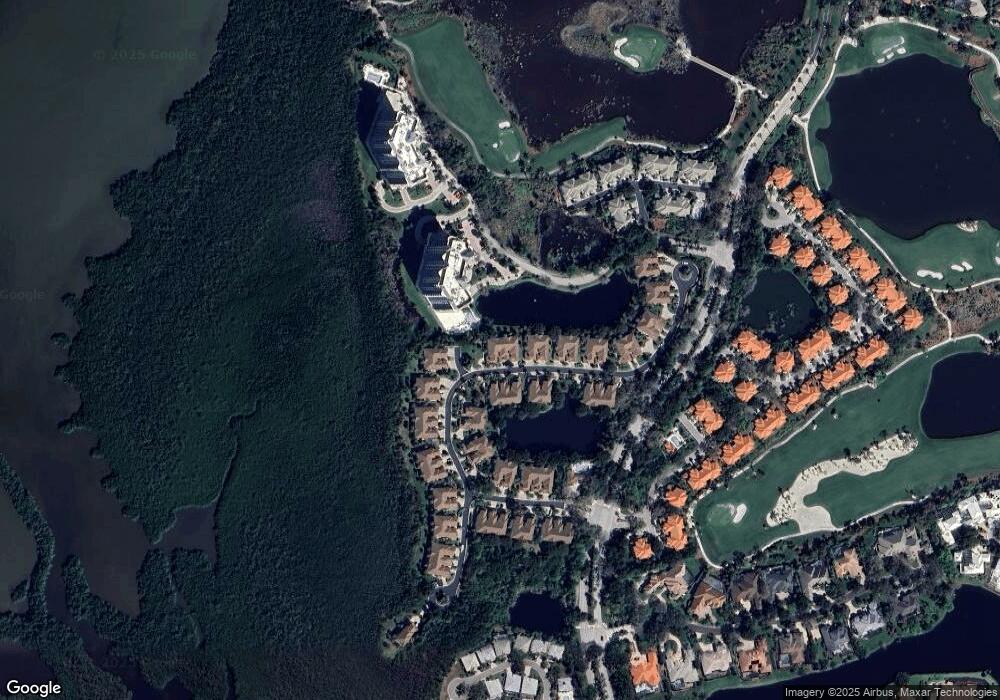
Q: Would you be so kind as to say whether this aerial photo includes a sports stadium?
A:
No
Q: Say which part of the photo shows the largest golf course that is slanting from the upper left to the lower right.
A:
top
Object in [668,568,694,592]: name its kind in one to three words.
house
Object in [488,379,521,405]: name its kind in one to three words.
house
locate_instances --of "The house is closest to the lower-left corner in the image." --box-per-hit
[391,616,419,647]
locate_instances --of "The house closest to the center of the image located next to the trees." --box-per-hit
[486,336,520,363]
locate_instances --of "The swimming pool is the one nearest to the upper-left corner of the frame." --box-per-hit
[363,63,391,85]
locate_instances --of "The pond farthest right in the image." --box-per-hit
[920,351,1000,439]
